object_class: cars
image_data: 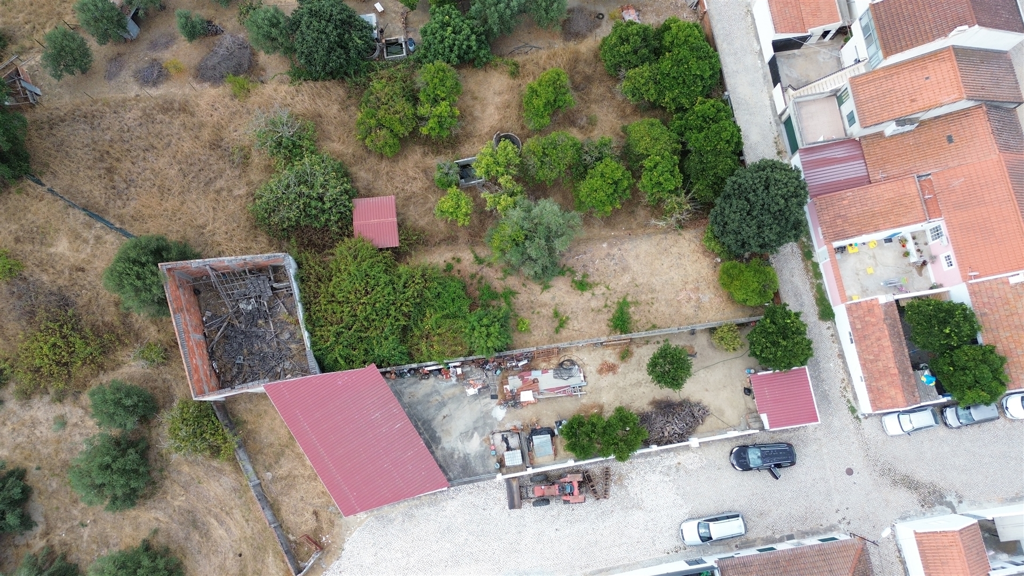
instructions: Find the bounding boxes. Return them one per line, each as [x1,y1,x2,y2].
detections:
[878,406,942,437]
[998,392,1024,417]
[939,400,1003,434]
[729,442,798,481]
[679,511,749,547]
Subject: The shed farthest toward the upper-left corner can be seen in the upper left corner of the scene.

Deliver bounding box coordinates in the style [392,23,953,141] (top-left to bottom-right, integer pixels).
[0,54,42,104]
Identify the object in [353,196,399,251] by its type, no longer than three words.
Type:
shed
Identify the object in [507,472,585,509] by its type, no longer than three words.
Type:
work vehicle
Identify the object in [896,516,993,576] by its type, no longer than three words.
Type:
house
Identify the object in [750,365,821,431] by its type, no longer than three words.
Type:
shed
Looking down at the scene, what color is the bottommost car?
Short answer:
white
